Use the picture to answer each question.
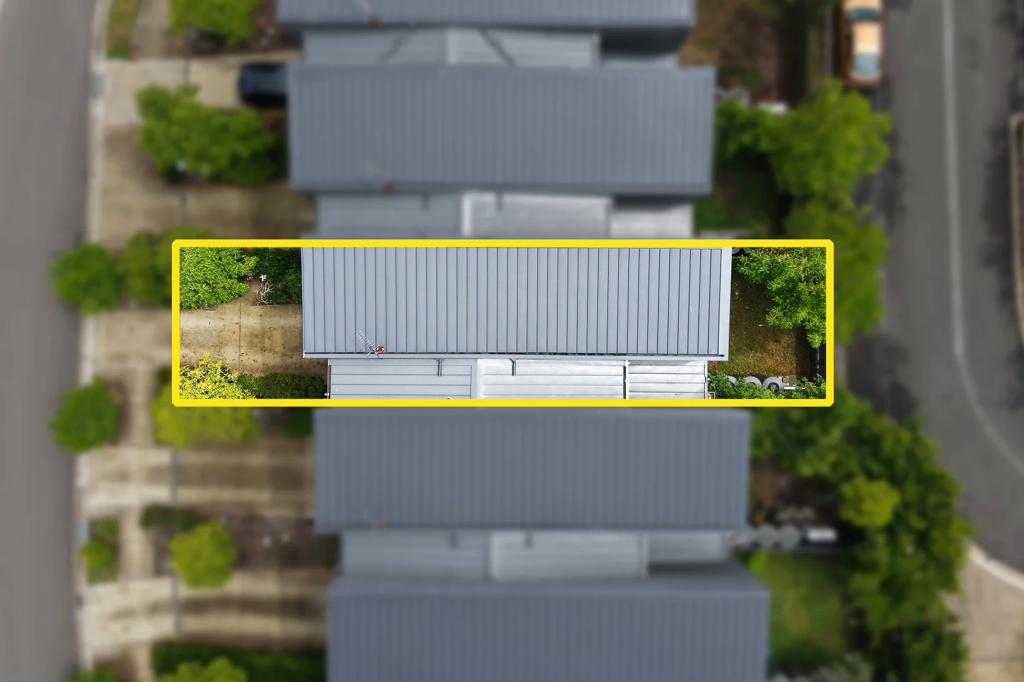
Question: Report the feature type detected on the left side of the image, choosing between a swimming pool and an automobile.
automobile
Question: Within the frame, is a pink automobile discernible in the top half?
No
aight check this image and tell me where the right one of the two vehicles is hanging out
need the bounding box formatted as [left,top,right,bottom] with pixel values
[833,0,883,86]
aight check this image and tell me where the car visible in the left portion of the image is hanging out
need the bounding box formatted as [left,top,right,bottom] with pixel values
[241,62,292,109]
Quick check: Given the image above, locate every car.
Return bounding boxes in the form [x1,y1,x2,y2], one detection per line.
[833,0,883,86]
[241,62,292,109]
